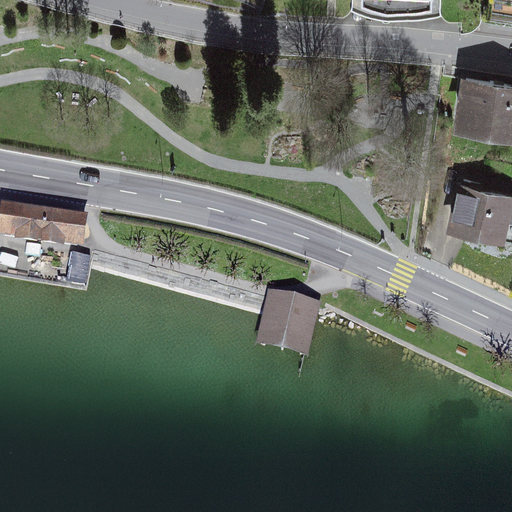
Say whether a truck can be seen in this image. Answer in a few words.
No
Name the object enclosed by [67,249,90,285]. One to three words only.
shed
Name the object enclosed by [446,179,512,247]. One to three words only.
house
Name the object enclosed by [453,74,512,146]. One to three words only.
house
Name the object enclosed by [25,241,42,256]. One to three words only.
umbrella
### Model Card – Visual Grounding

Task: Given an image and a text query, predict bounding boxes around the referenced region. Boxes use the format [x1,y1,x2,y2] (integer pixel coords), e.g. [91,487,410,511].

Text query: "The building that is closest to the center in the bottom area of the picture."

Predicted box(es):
[255,288,321,357]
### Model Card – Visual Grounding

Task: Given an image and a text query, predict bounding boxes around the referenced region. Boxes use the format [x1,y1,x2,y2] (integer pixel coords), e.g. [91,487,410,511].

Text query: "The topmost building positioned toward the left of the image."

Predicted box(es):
[0,198,88,247]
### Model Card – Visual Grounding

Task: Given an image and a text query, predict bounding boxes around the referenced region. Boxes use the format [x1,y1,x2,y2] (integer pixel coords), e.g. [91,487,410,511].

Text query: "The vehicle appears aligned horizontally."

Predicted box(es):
[78,169,100,181]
